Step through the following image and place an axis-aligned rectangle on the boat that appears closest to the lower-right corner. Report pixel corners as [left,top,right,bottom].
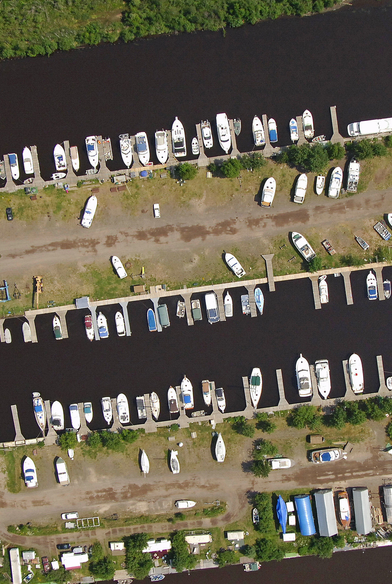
[337,491,352,529]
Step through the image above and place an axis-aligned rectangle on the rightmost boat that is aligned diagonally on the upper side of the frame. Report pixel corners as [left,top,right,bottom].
[374,222,392,241]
